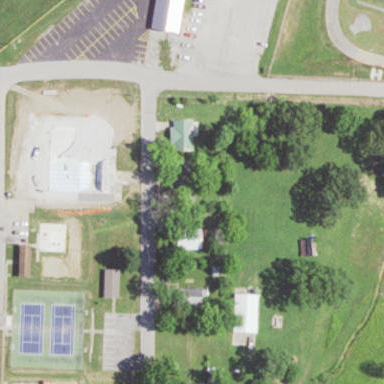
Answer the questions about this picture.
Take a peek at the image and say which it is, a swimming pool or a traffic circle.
swimming pool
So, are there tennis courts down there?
Yes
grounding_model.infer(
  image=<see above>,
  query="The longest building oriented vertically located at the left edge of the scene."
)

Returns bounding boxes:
[19,246,31,277]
